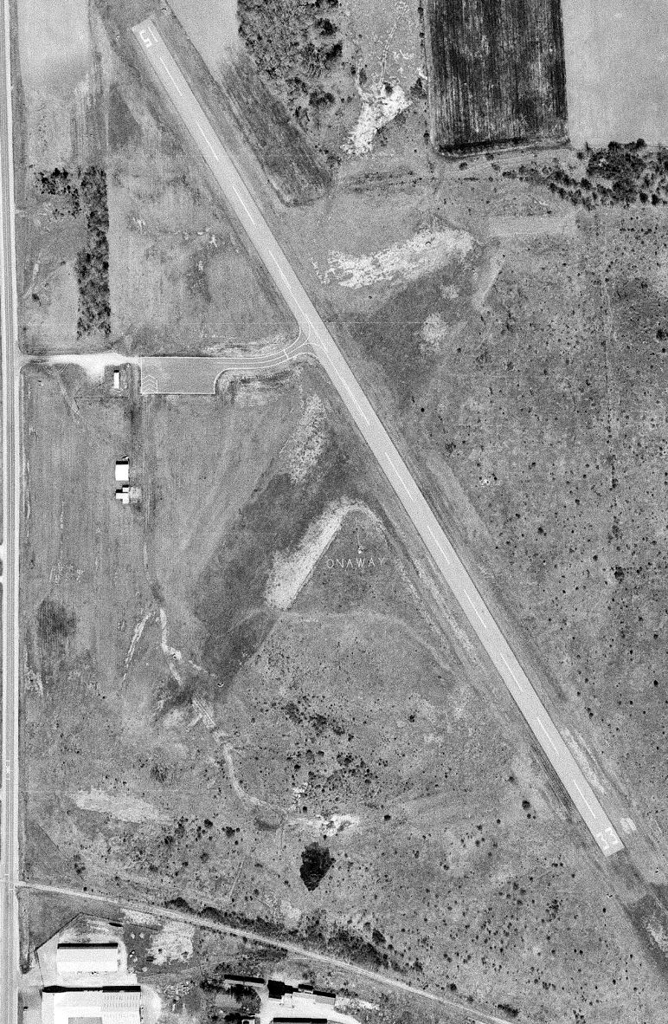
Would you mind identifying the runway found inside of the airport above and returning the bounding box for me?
[132,18,624,856]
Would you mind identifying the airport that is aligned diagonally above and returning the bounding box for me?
[132,18,624,856]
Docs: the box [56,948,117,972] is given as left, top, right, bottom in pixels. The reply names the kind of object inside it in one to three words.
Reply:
building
